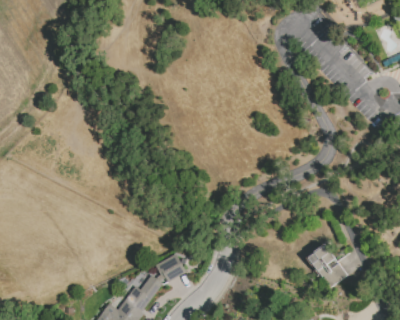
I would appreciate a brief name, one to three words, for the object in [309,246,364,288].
house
